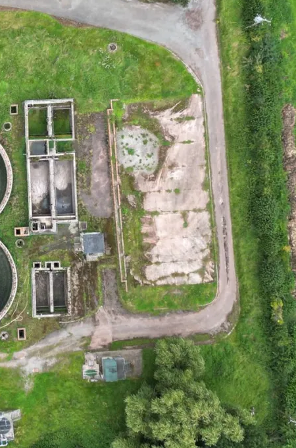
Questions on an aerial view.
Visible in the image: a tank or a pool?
tank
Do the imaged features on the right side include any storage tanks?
No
